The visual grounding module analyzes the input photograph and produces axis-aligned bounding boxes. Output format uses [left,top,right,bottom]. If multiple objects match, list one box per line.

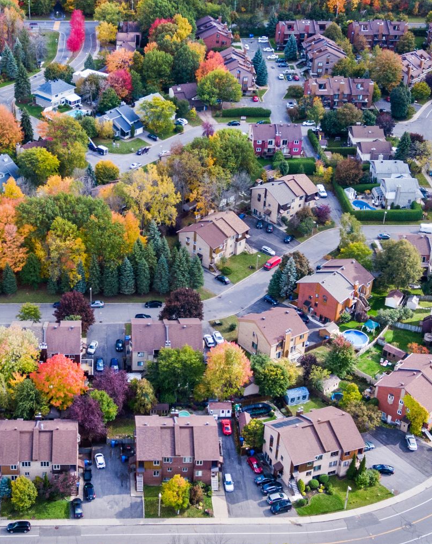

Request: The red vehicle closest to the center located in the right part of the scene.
[264,252,282,266]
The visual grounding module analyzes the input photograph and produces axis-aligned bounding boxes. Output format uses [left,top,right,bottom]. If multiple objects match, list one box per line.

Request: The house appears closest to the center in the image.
[182,210,256,270]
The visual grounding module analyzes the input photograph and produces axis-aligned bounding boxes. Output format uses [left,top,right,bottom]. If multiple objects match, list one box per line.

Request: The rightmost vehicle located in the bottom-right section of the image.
[406,432,419,448]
